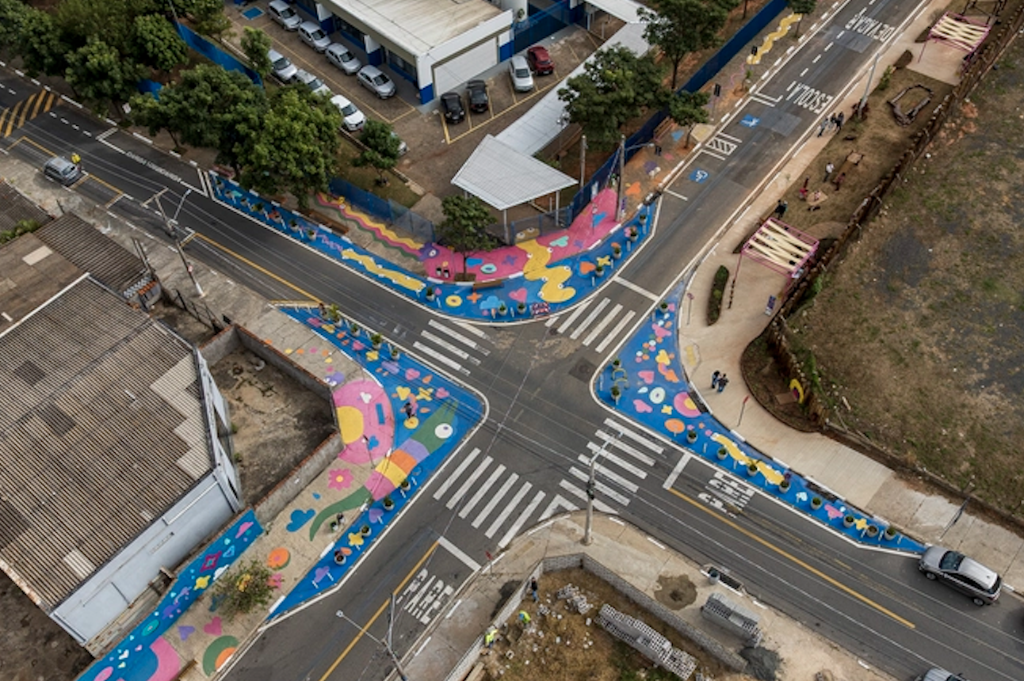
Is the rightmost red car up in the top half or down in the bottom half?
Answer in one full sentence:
Seen from above, the rightmost red car lies in the top half of the view.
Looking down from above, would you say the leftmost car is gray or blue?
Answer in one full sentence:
The color of the leftmost car is gray.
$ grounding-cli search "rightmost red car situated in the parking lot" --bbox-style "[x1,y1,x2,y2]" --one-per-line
[525,42,556,72]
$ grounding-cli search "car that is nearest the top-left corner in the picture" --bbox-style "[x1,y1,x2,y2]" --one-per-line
[37,151,86,185]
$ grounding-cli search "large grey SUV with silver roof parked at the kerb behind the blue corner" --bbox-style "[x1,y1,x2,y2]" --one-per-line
[912,546,1011,615]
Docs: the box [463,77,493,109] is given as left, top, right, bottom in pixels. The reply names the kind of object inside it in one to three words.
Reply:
car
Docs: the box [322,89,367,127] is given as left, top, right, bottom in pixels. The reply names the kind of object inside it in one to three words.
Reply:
car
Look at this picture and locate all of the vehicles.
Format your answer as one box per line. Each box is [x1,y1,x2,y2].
[37,151,86,185]
[292,15,333,48]
[322,36,364,71]
[353,59,398,95]
[287,60,330,96]
[463,77,493,109]
[437,85,467,122]
[505,52,536,87]
[912,546,1011,615]
[260,44,296,76]
[392,130,418,161]
[525,42,556,72]
[322,89,367,127]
